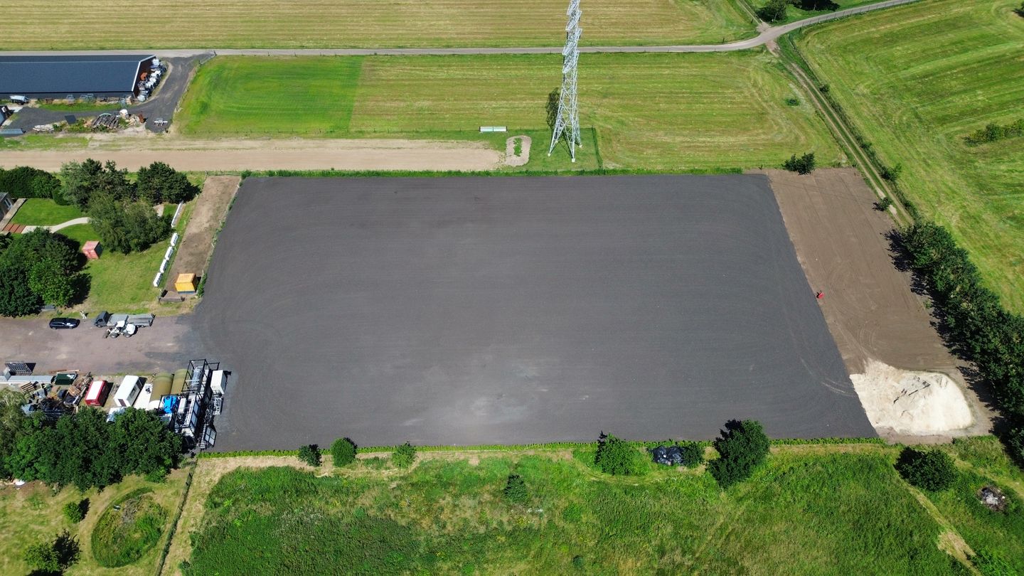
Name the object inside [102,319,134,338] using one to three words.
work vehicle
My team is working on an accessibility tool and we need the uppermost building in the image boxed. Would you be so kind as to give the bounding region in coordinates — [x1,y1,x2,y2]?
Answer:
[0,53,156,100]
